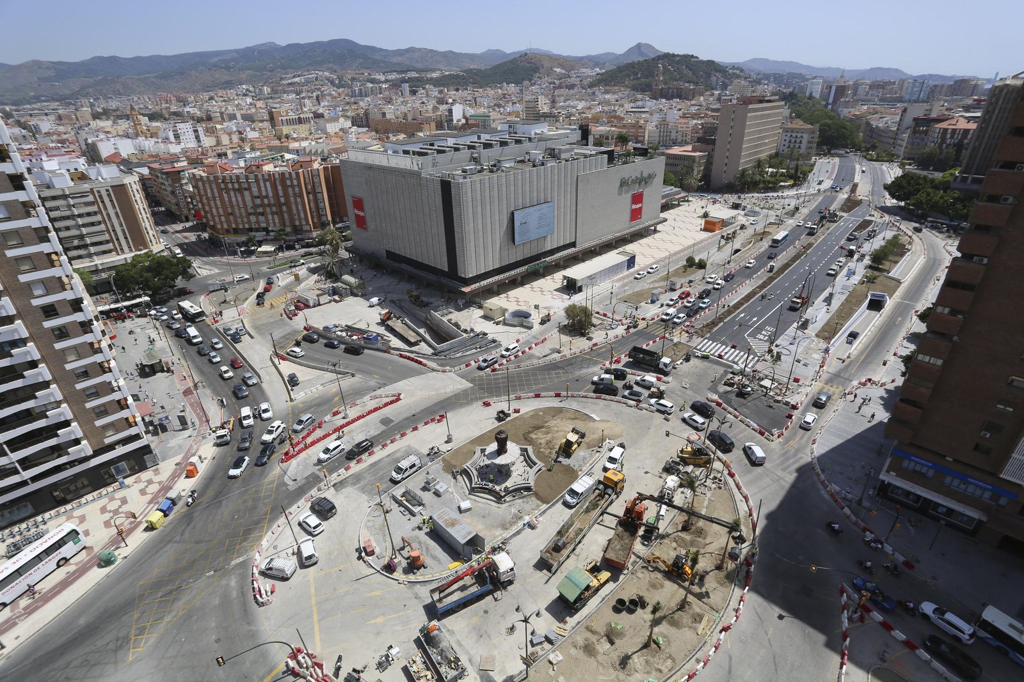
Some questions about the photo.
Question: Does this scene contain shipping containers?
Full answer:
Yes, there's a shipping container down there.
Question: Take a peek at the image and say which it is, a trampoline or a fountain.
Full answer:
The image shows a fountain.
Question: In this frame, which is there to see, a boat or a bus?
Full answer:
The one in the frame is a bus.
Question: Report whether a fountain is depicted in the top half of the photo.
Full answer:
No, the scene shows no fountain in the top half of the photo.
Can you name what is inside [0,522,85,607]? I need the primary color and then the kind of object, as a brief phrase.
white bus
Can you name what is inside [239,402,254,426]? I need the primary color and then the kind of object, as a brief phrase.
white vehicle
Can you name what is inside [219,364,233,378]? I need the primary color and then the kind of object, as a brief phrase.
white car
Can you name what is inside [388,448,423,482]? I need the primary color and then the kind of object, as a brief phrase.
white van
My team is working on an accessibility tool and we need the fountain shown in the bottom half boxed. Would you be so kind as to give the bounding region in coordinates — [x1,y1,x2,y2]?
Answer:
[457,424,551,502]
